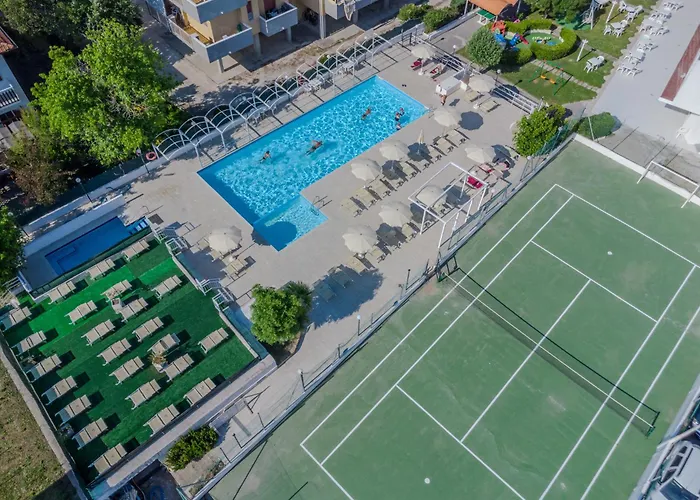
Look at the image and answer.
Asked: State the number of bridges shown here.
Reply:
0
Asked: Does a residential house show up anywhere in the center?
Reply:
No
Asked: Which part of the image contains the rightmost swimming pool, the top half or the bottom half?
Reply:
top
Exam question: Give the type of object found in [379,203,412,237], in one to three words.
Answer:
umbrella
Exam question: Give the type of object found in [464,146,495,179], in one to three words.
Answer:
umbrella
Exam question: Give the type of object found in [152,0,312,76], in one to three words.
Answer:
house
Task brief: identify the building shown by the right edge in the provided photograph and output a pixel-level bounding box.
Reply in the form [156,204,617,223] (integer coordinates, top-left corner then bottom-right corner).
[657,19,700,116]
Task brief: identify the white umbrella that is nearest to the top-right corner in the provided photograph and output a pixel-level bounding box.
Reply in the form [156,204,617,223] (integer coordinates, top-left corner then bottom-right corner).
[466,77,494,107]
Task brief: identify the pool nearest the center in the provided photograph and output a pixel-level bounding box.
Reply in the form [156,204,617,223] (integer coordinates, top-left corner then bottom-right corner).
[196,74,435,253]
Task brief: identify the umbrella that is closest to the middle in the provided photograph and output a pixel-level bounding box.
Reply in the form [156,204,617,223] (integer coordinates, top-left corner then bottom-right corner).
[342,226,377,261]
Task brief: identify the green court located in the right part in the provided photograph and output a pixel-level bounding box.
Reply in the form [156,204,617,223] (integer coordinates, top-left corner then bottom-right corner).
[205,141,700,500]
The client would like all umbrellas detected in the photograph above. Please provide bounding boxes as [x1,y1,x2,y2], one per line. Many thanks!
[431,110,461,142]
[416,125,425,155]
[378,142,409,175]
[410,46,435,75]
[464,146,495,179]
[208,228,245,263]
[349,161,381,194]
[342,226,377,261]
[412,186,445,220]
[379,203,412,237]
[466,77,494,107]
